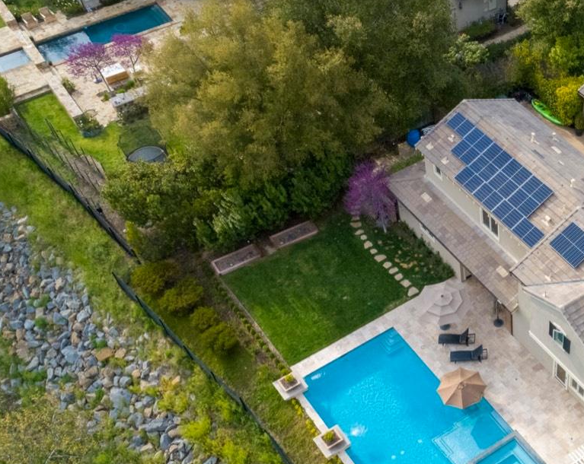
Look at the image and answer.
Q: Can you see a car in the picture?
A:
No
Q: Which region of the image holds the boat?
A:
top right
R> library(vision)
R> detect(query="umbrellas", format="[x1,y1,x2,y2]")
[419,289,469,334]
[437,372,489,418]
[494,300,503,326]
